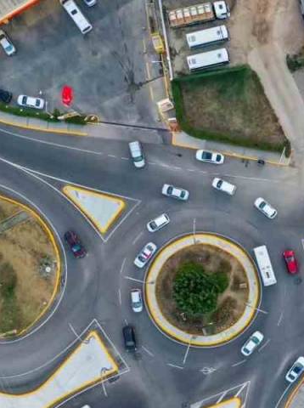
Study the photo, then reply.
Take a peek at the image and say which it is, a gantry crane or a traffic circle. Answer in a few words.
traffic circle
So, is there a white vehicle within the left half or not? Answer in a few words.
Yes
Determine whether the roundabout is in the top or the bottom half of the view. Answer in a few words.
bottom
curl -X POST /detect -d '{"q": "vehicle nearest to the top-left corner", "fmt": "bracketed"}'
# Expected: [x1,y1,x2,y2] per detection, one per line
[0,29,18,57]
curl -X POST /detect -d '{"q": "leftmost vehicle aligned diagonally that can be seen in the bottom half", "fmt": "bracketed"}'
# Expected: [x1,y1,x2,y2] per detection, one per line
[63,230,88,260]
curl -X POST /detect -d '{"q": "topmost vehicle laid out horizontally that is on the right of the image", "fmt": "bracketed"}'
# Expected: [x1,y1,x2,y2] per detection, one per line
[168,1,232,29]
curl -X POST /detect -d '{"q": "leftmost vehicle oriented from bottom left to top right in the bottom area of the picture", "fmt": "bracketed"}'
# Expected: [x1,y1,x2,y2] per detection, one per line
[134,241,157,268]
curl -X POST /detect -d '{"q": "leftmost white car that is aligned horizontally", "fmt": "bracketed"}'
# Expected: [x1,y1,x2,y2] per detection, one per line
[17,96,46,109]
